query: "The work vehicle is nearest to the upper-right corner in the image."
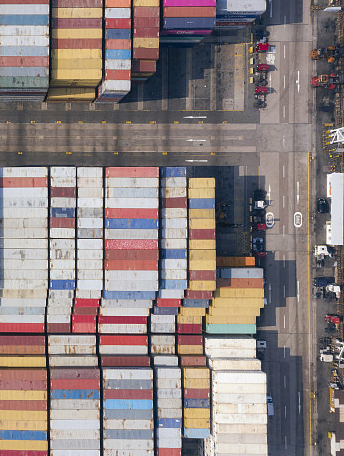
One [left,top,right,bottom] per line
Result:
[314,44,344,60]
